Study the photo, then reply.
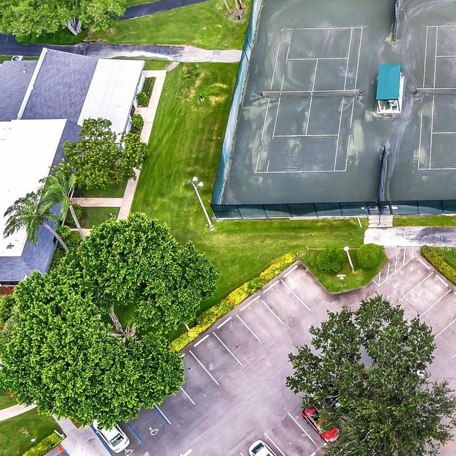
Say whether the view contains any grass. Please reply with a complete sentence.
Yes, grass can be seen from above here.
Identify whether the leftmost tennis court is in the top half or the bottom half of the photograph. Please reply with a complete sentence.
The leftmost tennis court is in the top half of the image.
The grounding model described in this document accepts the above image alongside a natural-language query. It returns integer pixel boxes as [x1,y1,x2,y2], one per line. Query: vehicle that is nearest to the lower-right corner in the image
[302,405,340,446]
